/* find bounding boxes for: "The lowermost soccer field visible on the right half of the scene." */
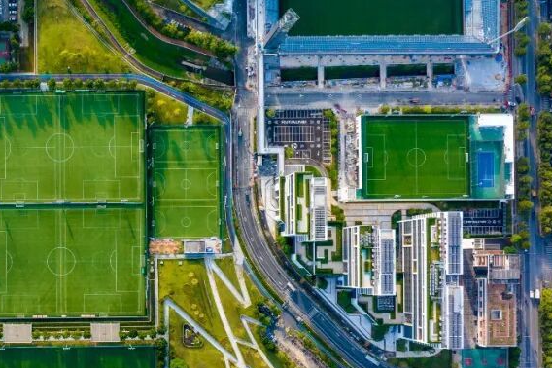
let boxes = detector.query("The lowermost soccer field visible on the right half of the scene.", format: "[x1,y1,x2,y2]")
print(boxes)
[362,116,469,198]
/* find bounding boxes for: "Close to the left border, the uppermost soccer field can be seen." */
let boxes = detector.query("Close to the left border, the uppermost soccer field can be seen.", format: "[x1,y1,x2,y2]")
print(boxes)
[0,91,143,201]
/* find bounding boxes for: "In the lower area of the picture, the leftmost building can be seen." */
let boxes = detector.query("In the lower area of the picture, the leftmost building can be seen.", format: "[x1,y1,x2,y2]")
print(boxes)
[4,323,32,342]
